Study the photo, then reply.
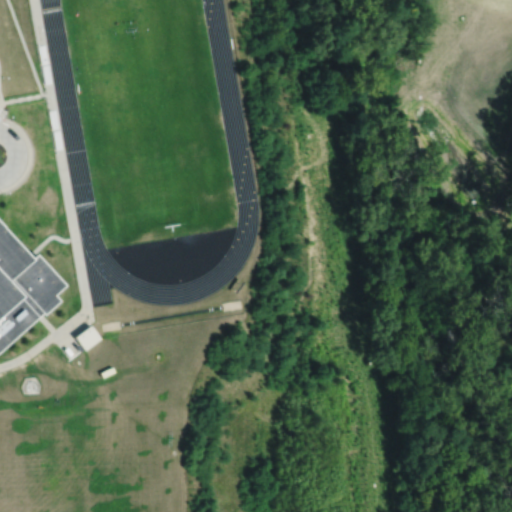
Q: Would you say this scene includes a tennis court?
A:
No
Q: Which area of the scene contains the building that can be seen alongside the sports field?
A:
left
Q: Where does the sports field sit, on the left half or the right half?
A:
left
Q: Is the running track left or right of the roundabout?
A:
on its right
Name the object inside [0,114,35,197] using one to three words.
roundabout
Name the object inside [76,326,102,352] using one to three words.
shed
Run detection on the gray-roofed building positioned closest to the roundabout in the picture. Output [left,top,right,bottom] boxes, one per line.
[0,218,68,354]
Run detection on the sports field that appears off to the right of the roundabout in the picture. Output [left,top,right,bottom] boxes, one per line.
[62,0,238,248]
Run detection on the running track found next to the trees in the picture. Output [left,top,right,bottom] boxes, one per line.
[41,0,258,316]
